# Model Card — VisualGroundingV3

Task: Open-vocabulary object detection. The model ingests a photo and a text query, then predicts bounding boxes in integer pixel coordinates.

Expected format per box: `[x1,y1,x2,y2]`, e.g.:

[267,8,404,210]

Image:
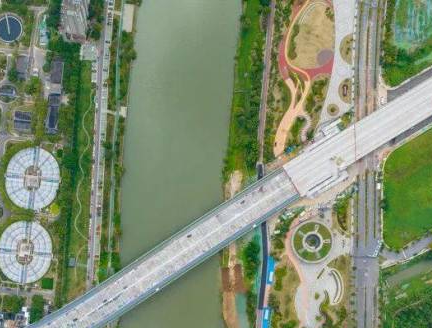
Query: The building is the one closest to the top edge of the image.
[55,0,90,44]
